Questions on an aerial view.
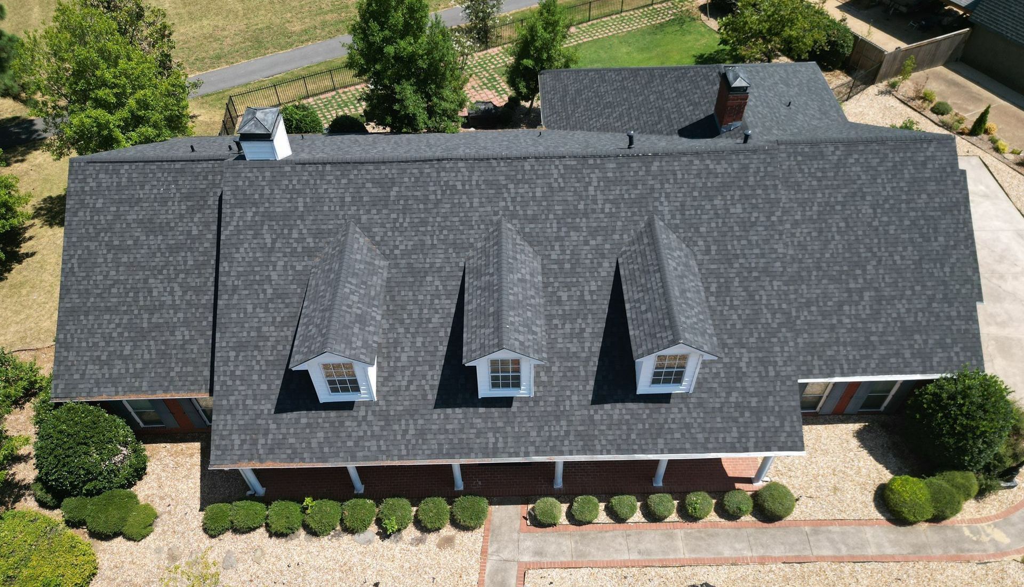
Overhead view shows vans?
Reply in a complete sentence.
No, there is no van in the image.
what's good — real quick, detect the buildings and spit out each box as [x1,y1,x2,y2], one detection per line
[954,0,1024,93]
[50,62,987,509]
